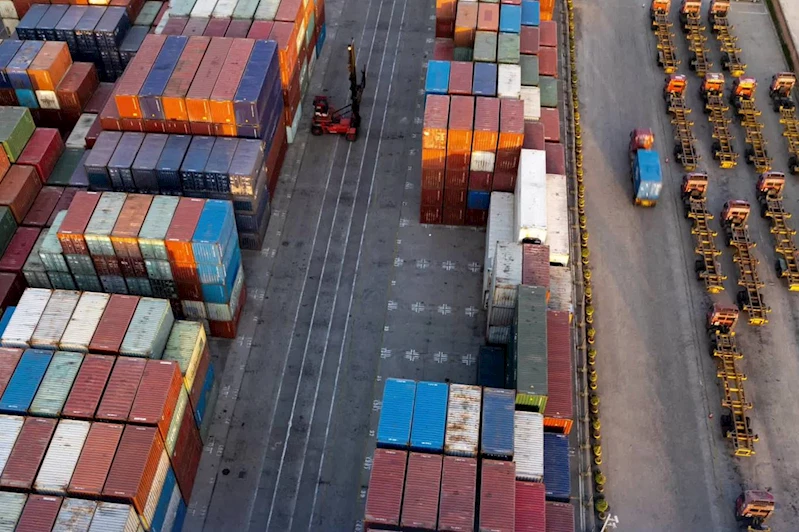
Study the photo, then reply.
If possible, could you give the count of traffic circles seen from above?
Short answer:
0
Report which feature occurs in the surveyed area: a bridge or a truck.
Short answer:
truck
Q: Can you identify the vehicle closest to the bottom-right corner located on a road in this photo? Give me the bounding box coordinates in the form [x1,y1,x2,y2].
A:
[736,488,775,532]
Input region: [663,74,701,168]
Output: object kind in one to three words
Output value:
truck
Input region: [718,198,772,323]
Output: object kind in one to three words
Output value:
truck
